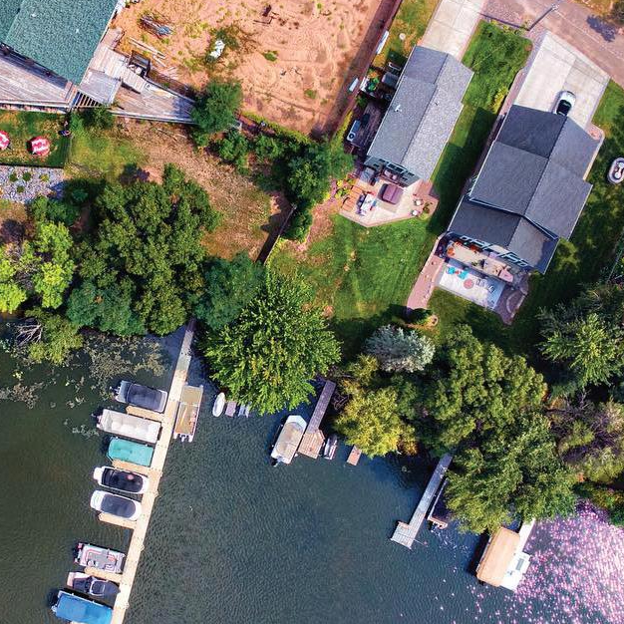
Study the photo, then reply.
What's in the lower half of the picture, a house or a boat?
boat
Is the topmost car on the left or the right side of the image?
right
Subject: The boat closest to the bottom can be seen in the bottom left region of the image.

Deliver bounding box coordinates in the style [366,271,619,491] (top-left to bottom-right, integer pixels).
[54,595,114,624]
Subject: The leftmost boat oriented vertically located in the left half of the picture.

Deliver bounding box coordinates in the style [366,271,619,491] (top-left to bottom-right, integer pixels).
[175,385,204,440]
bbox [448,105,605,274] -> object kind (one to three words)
house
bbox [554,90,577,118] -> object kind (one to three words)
car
